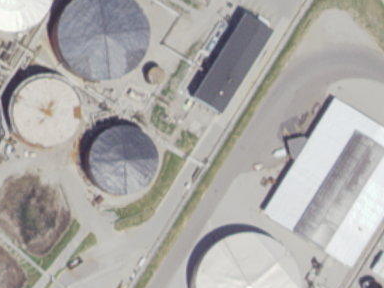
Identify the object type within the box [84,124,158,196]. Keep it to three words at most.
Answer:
storage tank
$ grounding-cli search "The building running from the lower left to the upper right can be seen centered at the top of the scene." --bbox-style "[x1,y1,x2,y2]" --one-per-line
[190,10,272,114]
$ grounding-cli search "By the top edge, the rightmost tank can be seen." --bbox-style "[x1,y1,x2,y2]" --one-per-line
[52,0,152,84]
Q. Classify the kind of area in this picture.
industrial area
